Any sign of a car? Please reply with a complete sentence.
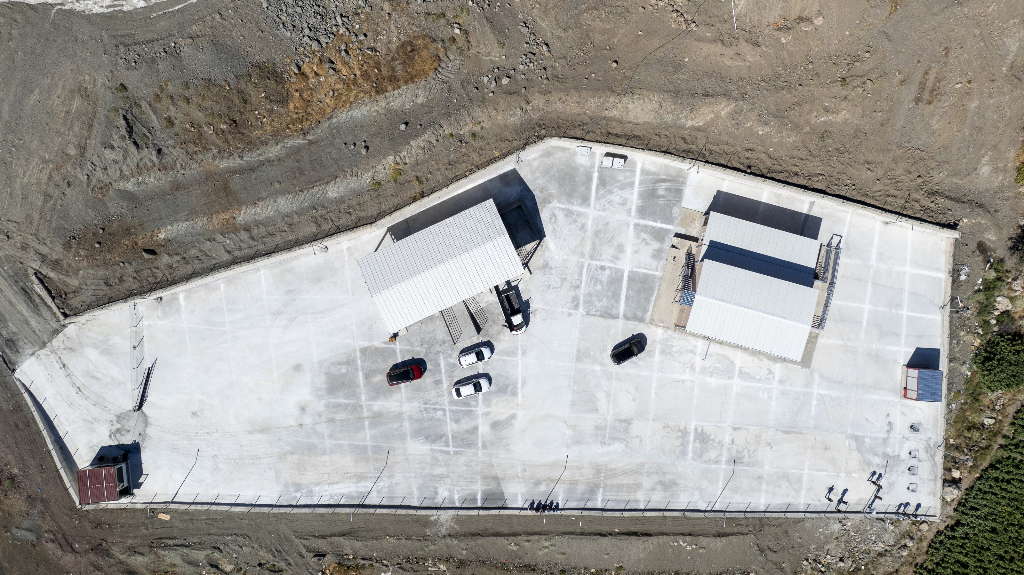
Yes, a car can be made out from above.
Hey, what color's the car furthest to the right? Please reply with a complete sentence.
The color of the car furthest to the right is black.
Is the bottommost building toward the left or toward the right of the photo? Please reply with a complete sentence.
The bottommost building is on the left side of the image.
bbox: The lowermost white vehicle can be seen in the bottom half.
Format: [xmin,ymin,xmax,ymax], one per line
[450,376,490,400]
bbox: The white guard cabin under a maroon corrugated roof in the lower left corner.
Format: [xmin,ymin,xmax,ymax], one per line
[76,457,137,505]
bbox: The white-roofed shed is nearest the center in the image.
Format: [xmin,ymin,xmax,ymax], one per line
[358,198,524,334]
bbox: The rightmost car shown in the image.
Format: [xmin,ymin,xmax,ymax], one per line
[608,338,647,367]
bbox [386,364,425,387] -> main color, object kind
black car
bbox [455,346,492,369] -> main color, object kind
white car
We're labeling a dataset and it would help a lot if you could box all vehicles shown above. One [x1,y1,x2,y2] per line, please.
[450,376,490,400]
[386,364,425,387]
[455,346,492,369]
[497,291,527,337]
[608,338,647,367]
